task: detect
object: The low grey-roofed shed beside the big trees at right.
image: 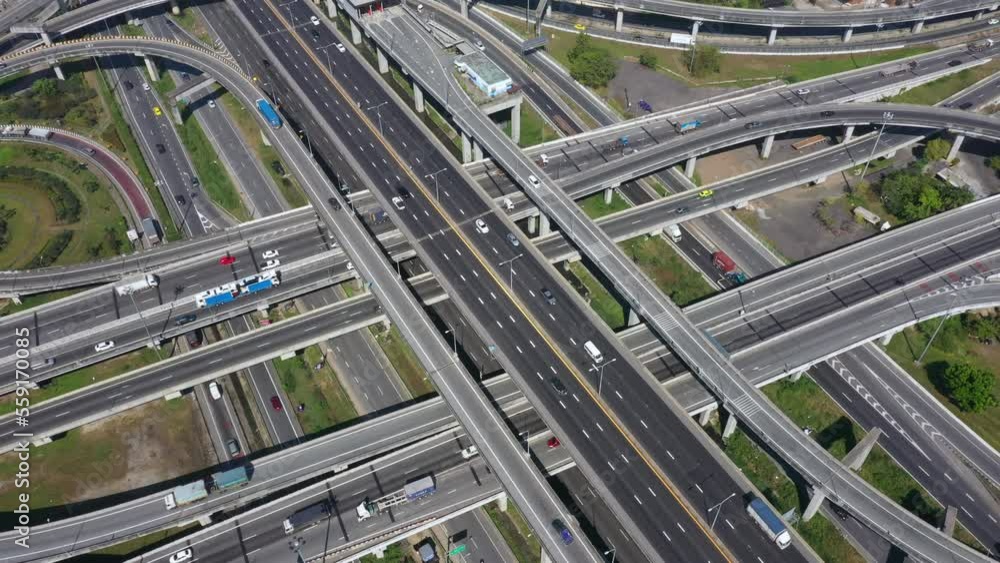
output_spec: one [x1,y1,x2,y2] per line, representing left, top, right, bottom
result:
[940,163,975,185]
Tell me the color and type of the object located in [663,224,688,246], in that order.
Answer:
white truck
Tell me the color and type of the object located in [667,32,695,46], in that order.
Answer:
white vehicle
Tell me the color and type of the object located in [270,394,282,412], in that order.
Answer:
red vehicle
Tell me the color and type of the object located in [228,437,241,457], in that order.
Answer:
gray vehicle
